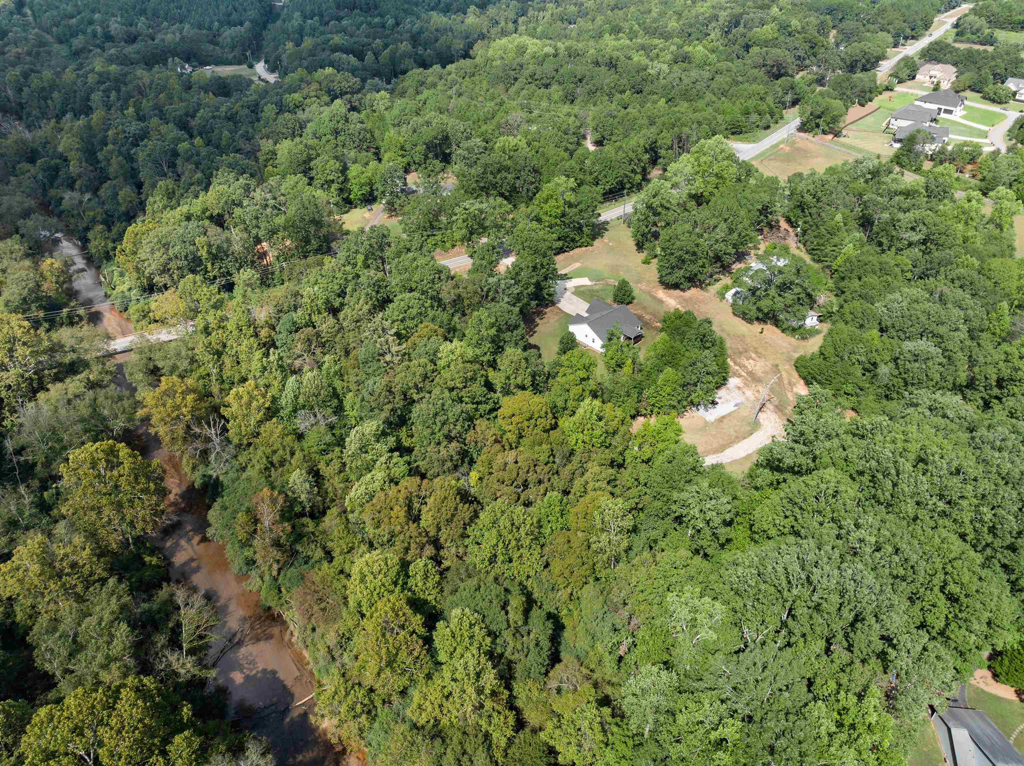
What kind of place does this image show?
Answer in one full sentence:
This looks like a forest.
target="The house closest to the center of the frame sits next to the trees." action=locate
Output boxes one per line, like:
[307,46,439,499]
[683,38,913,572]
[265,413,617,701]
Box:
[567,297,645,351]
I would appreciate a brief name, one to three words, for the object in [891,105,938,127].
house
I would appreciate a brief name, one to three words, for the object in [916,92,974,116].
house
